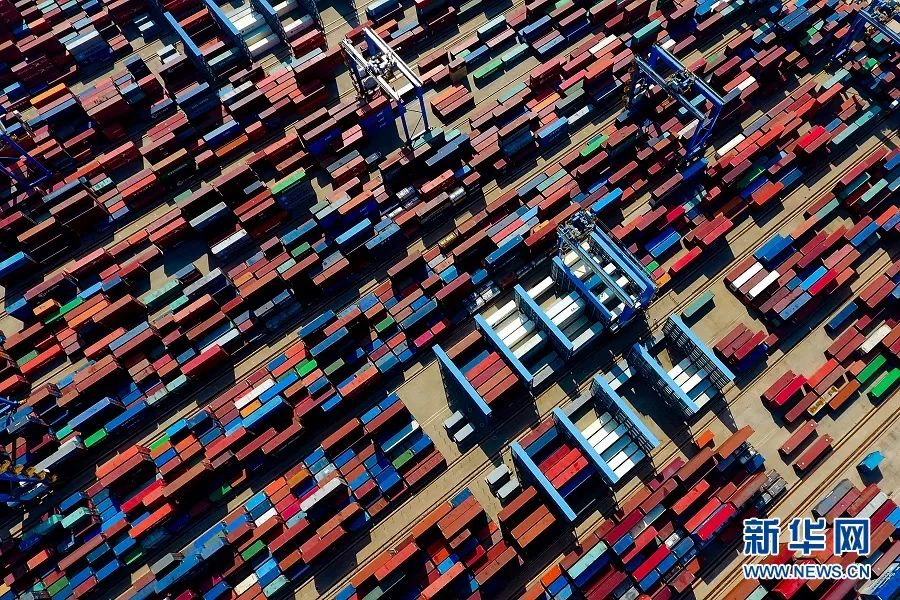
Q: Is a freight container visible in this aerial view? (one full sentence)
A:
Yes, this view includes a freight container.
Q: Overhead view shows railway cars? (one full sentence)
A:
No, there isn't any railway car down there.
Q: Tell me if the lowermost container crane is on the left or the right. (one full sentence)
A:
The lowermost container crane is on the left side of the image.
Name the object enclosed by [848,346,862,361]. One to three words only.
vehicle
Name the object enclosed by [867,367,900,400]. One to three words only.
shipping container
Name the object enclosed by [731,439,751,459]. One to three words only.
vehicle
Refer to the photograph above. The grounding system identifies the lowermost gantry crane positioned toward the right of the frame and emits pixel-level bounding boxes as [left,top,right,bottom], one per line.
[550,205,662,332]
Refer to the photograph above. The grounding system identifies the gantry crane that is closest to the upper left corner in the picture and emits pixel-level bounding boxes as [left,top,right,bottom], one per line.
[0,100,56,192]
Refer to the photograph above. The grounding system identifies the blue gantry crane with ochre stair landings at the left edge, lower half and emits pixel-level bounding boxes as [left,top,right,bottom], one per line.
[0,441,62,517]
